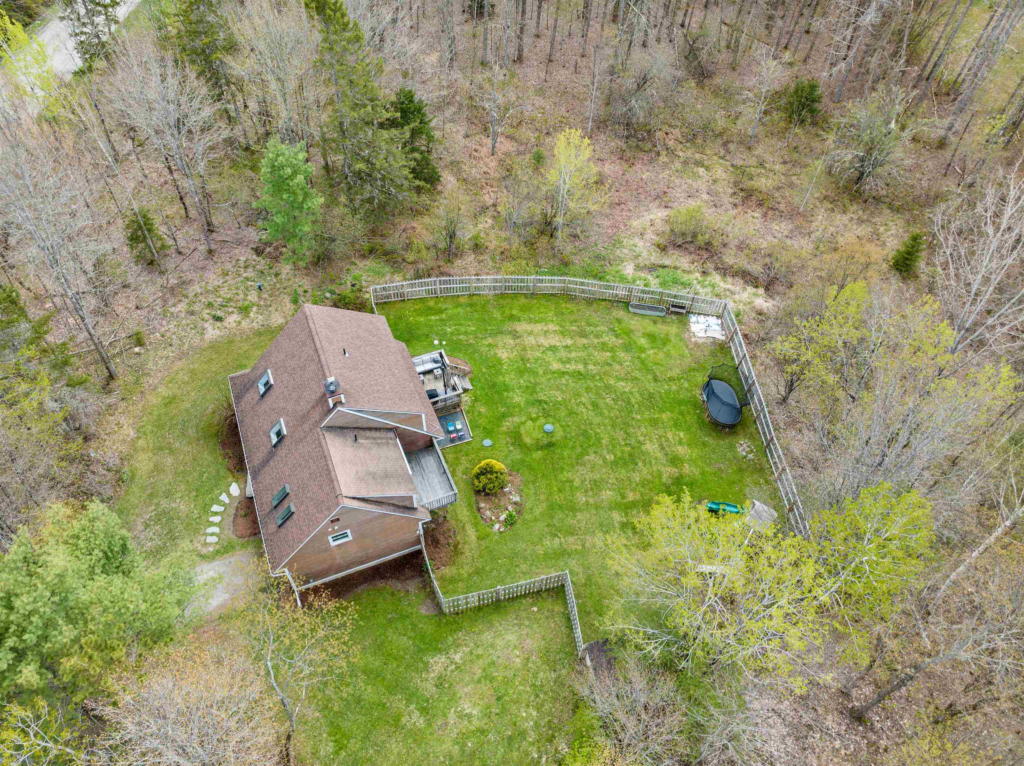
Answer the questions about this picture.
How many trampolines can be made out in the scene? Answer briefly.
1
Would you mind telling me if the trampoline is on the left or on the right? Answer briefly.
right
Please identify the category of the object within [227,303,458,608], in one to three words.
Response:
house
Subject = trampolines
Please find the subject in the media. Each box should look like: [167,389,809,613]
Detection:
[697,363,751,431]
